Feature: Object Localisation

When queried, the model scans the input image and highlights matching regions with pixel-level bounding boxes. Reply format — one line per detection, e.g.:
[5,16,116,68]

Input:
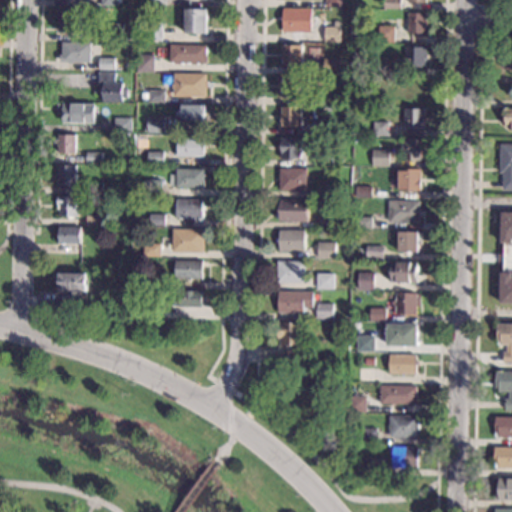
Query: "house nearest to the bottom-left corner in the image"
[54,272,88,292]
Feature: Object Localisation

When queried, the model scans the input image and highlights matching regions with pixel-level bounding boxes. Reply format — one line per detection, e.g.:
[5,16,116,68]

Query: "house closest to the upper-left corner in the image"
[58,41,92,64]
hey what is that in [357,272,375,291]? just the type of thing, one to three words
building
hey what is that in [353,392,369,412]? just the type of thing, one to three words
building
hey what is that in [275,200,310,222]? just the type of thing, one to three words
house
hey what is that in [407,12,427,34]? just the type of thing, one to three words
house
